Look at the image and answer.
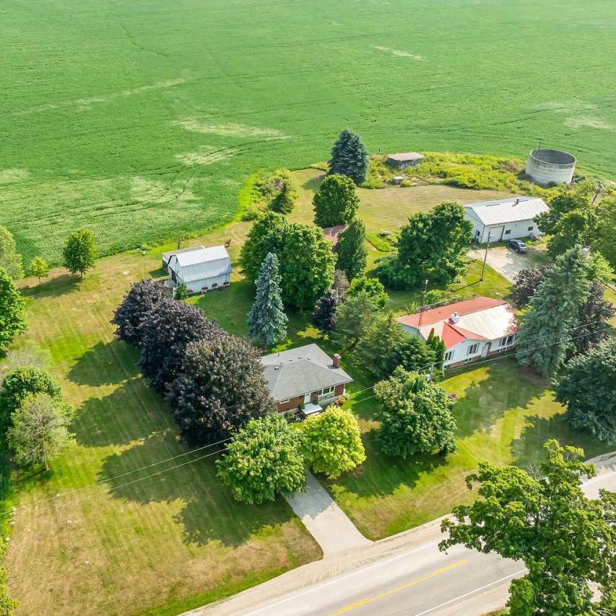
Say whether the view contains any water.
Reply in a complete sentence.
No, there's no water in this view.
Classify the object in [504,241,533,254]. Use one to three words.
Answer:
vehicle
